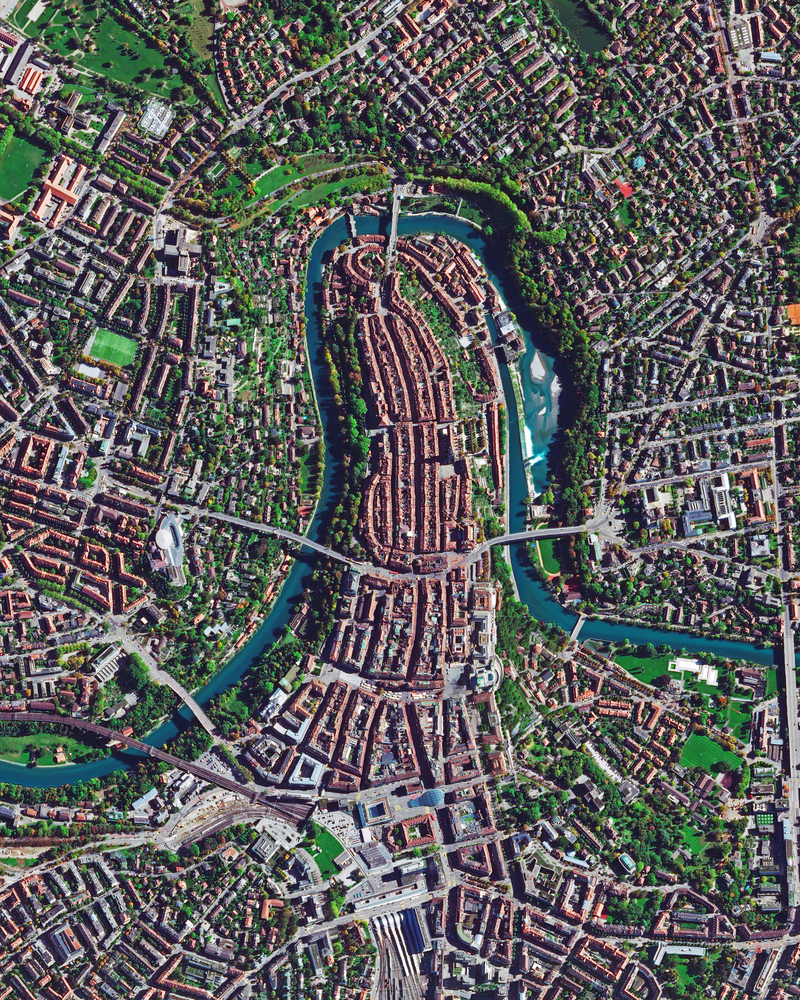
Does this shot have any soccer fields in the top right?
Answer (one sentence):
No, the scene shows no soccer field in the top right.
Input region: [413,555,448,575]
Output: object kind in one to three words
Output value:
building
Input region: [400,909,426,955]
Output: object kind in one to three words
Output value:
shed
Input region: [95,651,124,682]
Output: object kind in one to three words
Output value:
shed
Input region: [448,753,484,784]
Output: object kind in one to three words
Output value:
building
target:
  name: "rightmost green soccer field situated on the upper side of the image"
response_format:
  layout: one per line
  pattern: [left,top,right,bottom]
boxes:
[90,329,139,367]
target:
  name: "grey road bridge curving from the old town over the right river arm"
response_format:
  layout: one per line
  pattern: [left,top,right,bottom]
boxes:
[465,521,594,563]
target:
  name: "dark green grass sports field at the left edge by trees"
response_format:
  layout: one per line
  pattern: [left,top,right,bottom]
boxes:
[0,135,46,199]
